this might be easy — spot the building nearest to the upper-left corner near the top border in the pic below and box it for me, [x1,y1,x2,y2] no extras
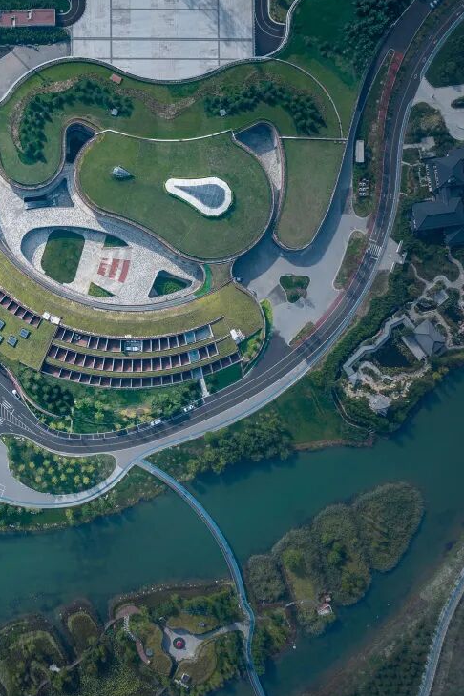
[0,8,56,27]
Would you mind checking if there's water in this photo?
Yes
